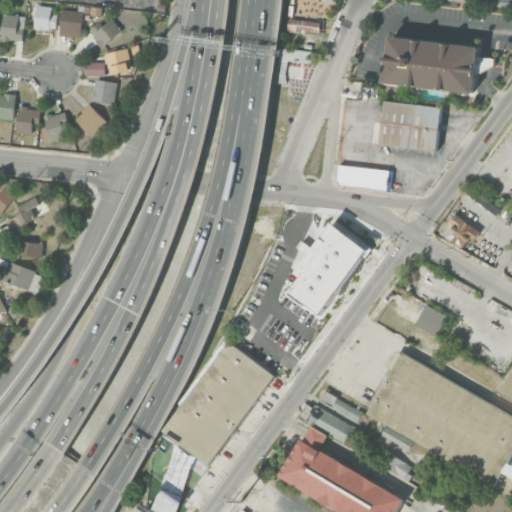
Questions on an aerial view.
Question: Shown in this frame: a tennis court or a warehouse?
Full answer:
There is a warehouse in the scene.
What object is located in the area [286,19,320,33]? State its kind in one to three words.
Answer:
barn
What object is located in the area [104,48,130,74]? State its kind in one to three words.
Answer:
house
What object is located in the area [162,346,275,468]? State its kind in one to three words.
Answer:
warehouse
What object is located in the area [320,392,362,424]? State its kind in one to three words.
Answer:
building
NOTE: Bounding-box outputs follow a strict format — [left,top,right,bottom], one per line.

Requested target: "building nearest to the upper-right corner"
[380,38,494,97]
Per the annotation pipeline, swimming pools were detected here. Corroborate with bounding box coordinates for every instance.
[418,91,444,103]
